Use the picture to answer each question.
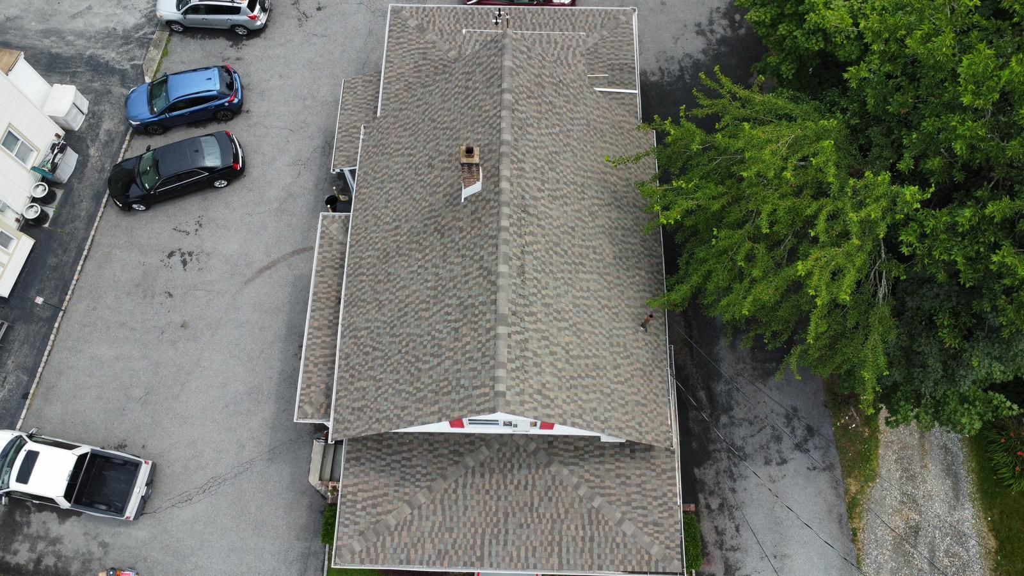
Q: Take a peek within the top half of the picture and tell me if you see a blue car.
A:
Yes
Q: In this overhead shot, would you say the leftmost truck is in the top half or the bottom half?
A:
bottom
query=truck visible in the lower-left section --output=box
[0,421,166,522]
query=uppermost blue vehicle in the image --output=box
[126,63,248,134]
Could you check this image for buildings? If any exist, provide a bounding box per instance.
[0,45,62,326]
[291,1,694,576]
